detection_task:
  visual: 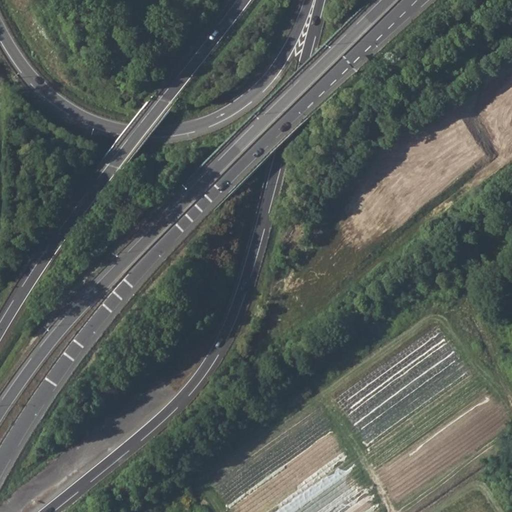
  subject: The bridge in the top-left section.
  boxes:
[95,92,175,180]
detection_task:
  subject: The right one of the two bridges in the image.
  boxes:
[197,0,364,212]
